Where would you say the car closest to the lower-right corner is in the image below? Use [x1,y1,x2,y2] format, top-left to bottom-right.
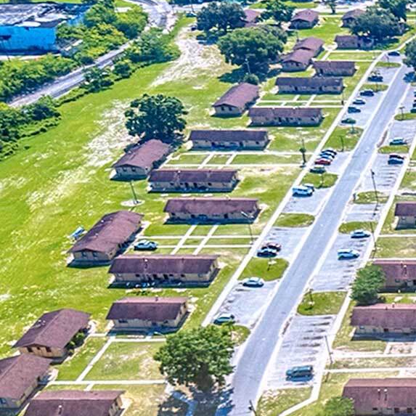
[286,366,313,379]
